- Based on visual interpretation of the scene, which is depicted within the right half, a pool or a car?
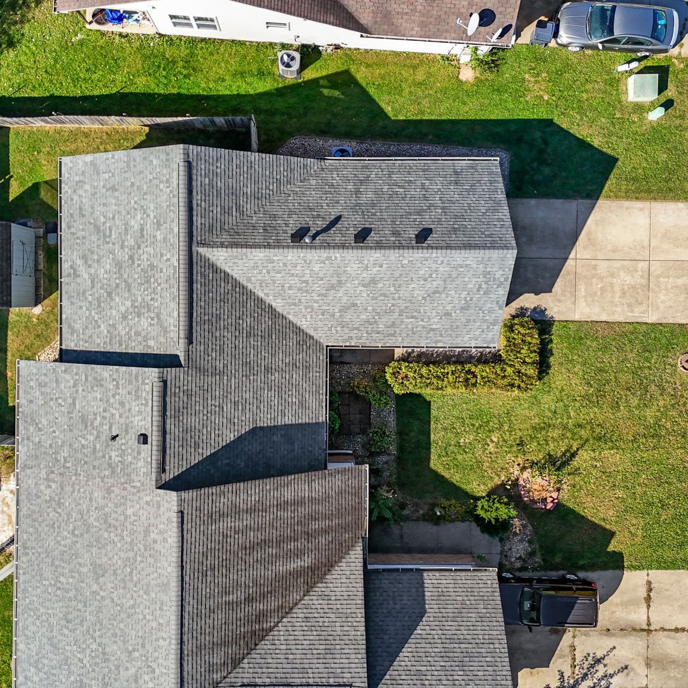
car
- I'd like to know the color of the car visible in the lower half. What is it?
black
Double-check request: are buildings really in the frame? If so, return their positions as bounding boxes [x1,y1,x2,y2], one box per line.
[12,145,517,688]
[51,0,523,61]
[0,219,33,309]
